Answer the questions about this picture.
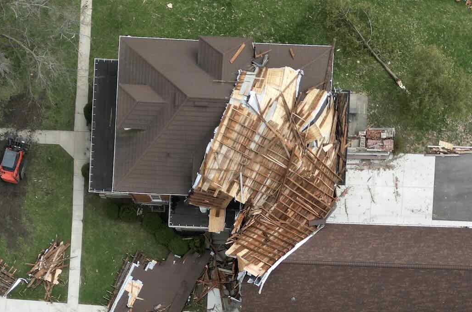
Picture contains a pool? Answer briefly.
No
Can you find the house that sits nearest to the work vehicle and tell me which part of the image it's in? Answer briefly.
center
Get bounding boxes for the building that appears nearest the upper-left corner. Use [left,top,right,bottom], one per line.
[88,34,351,248]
